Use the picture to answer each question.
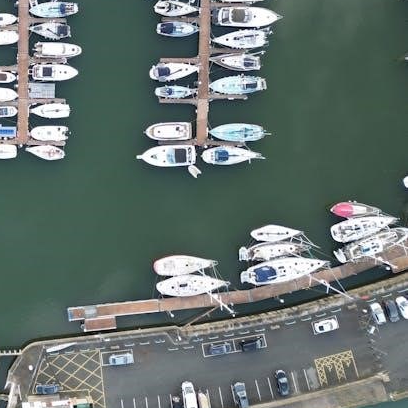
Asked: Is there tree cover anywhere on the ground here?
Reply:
No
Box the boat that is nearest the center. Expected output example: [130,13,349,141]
[188,165,202,178]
